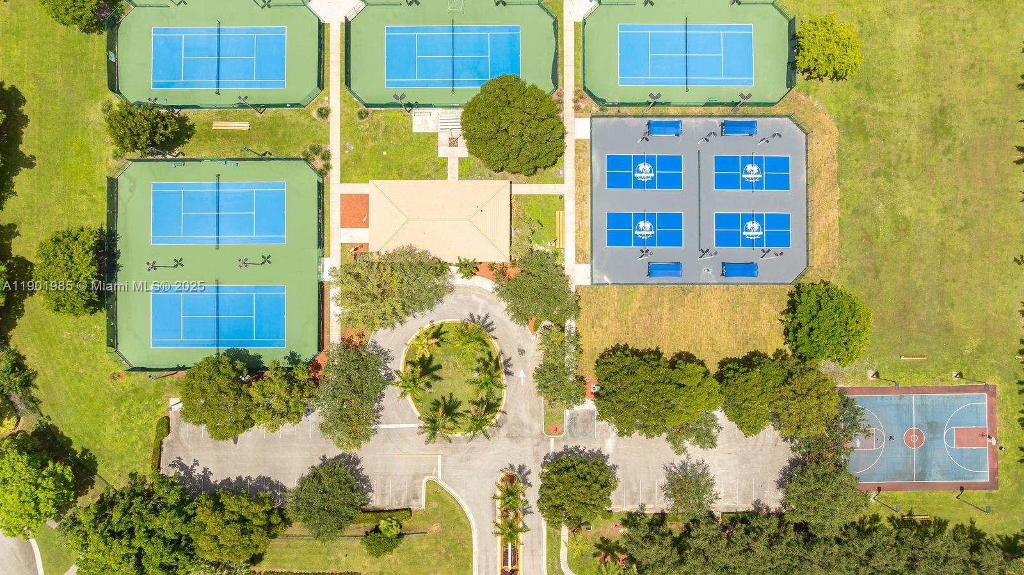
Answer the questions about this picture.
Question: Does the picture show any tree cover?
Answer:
Yes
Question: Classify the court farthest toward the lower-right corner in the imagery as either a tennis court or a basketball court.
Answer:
basketball court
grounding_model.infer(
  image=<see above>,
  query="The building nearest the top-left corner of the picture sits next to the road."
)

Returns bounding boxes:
[368,180,510,262]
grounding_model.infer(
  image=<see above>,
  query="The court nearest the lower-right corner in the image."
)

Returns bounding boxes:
[832,385,999,491]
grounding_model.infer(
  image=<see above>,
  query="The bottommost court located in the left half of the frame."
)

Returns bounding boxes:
[117,265,322,370]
